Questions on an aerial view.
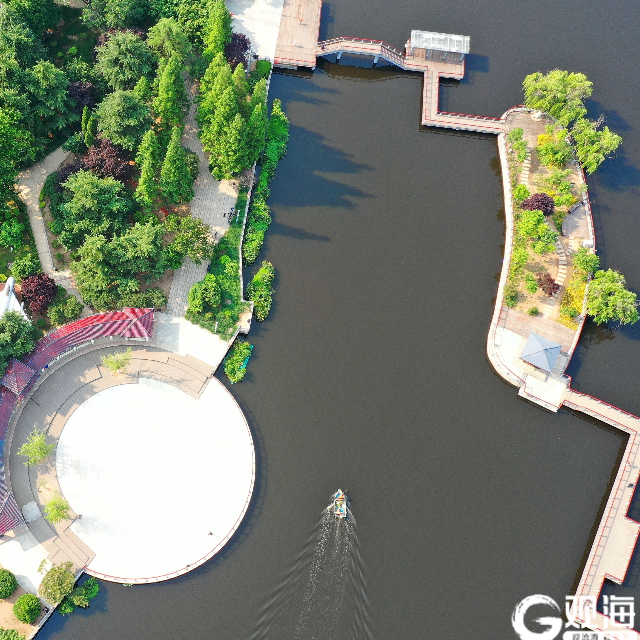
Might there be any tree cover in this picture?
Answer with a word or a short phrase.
Yes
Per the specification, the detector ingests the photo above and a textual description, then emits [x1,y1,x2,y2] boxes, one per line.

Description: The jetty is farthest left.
[274,0,322,71]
